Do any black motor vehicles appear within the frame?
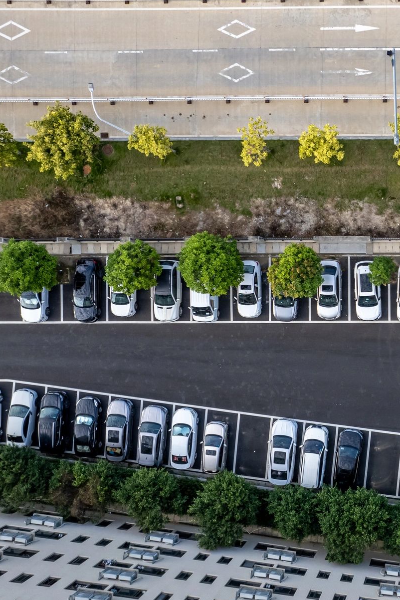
Yes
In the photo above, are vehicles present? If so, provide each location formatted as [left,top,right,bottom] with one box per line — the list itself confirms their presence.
[201,419,230,474]
[268,416,299,486]
[149,259,183,322]
[270,287,299,322]
[102,398,136,462]
[188,288,218,323]
[234,259,265,318]
[106,283,139,318]
[70,396,104,457]
[300,423,330,490]
[17,285,51,323]
[136,404,171,468]
[168,407,201,470]
[6,387,42,449]
[314,258,344,320]
[36,390,73,454]
[69,260,103,323]
[333,427,364,488]
[352,260,382,321]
